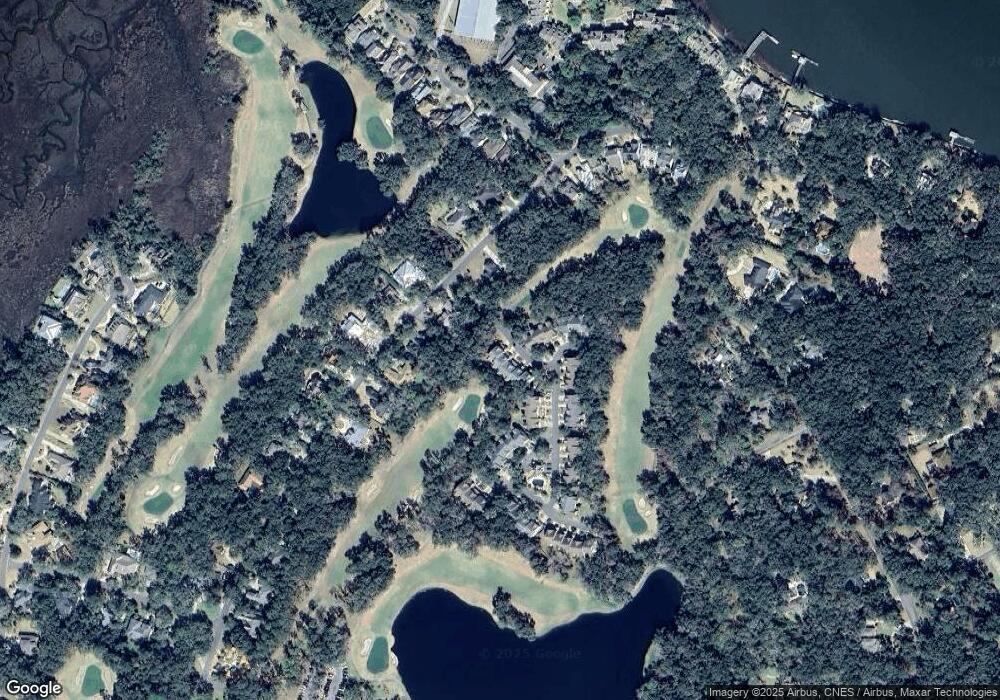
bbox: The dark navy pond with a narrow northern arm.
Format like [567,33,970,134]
[292,62,396,236]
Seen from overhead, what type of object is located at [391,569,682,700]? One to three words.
pond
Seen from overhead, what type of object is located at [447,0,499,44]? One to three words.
building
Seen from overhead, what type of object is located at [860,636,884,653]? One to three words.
house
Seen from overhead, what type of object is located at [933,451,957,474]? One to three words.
house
